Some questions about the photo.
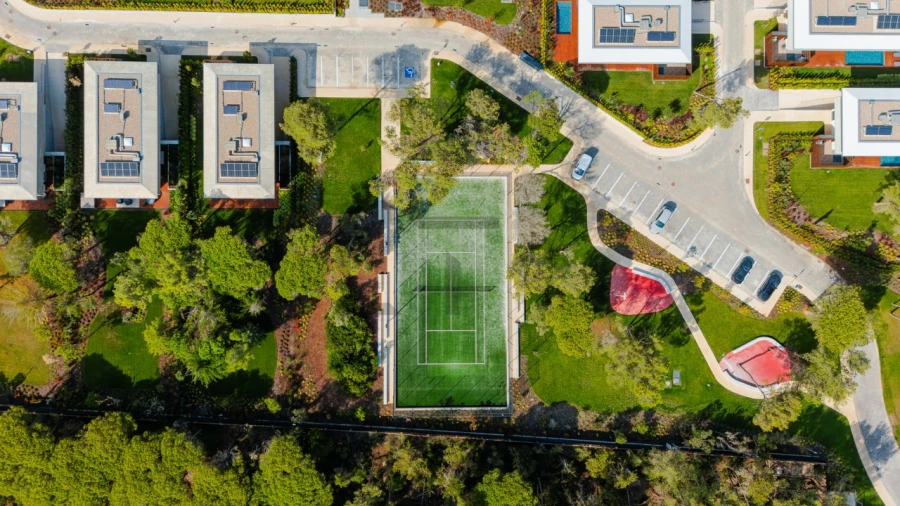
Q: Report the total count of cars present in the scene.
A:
5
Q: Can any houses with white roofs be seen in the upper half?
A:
Yes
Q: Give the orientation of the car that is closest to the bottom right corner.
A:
at an angle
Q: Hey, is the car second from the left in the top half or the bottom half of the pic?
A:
top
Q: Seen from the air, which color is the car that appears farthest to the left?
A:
blue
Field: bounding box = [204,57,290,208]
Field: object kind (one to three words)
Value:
house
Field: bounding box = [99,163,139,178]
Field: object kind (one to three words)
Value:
solar panel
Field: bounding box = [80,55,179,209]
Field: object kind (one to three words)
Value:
house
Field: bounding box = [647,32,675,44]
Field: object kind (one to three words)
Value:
solar panel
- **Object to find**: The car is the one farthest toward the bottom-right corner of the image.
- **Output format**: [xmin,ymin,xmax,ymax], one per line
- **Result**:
[758,271,780,300]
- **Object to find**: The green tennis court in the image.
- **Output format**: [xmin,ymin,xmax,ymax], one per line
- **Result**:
[395,176,508,409]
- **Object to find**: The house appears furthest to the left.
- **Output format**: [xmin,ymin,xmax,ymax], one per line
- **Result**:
[0,83,74,210]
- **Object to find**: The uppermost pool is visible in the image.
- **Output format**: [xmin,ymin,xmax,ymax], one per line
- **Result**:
[555,1,572,34]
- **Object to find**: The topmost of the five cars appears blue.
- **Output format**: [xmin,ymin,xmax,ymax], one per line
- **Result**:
[519,51,544,73]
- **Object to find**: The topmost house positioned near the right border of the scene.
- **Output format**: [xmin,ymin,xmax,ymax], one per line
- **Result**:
[764,0,900,67]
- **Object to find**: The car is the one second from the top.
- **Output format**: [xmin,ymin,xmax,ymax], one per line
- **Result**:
[572,151,594,179]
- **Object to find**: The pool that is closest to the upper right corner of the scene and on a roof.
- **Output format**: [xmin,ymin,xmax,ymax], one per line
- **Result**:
[845,52,885,66]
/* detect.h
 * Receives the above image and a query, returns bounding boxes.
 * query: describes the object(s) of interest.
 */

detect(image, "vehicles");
[730,257,753,284]
[519,51,544,73]
[758,271,780,300]
[572,151,594,179]
[651,204,674,232]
